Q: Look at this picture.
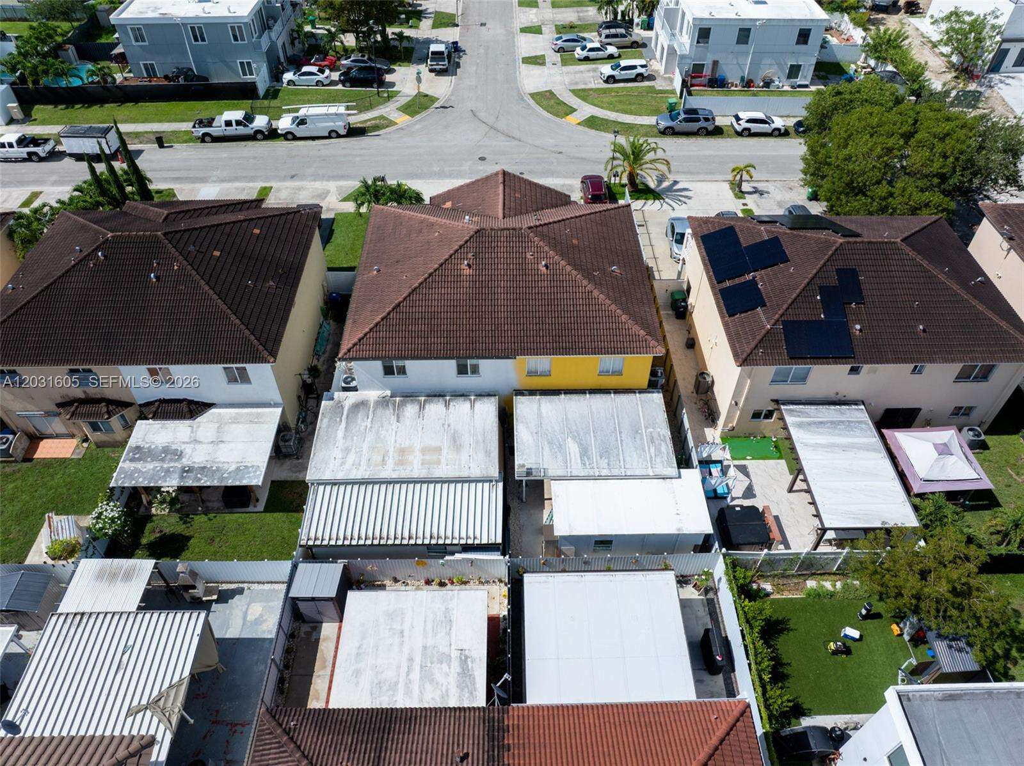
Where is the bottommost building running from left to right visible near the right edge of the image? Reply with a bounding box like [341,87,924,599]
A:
[831,686,1024,766]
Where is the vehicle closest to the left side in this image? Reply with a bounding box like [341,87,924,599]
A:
[0,129,62,160]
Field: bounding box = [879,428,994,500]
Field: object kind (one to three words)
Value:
gazebo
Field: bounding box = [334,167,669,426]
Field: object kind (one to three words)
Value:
house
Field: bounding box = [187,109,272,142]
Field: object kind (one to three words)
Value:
truck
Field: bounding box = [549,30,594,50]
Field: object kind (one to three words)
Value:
car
